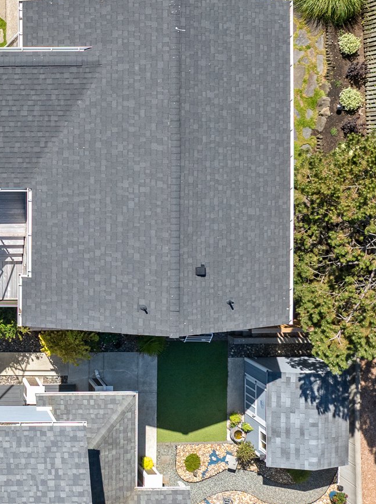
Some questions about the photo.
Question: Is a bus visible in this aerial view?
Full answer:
No, I can see no bus in this picture.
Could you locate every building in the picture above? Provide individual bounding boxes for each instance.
[243,358,350,478]
[0,0,297,338]
[0,368,192,504]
